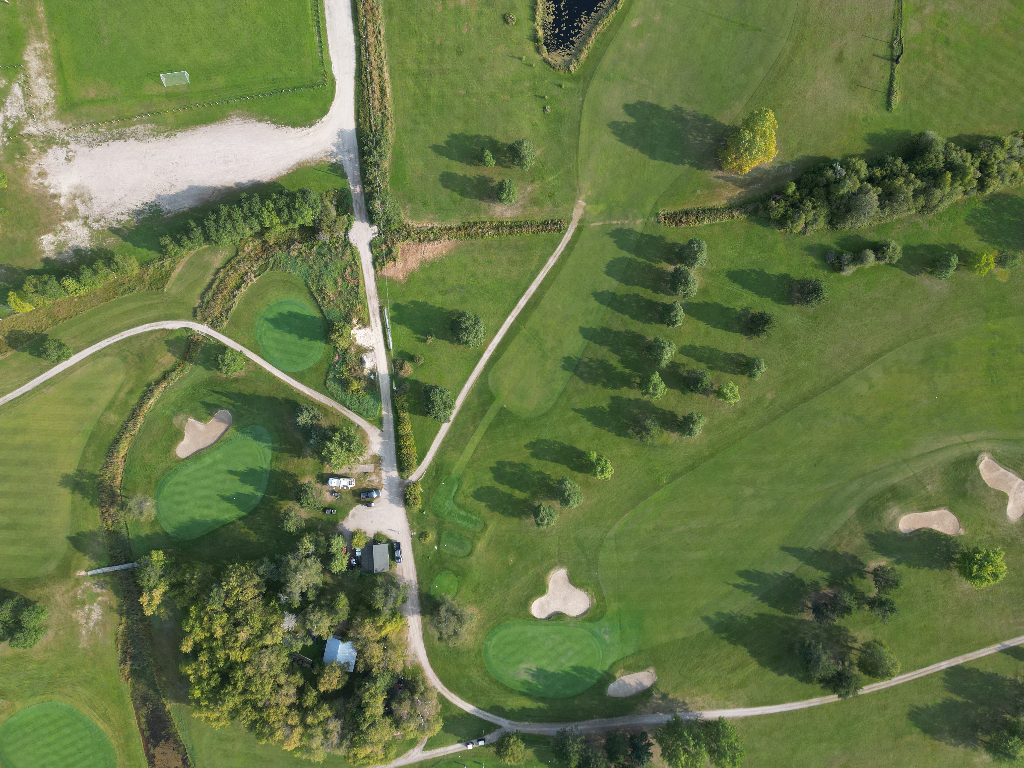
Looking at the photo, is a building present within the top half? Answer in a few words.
No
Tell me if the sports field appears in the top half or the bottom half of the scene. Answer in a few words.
top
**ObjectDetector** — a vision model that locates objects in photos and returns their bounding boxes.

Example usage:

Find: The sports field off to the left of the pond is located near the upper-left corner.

[36,0,325,111]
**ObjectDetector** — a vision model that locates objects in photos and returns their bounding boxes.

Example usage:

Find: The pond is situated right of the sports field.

[544,0,618,61]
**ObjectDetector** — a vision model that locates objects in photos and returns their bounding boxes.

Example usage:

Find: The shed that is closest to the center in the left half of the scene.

[361,543,389,573]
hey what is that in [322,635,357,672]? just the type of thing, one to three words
house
